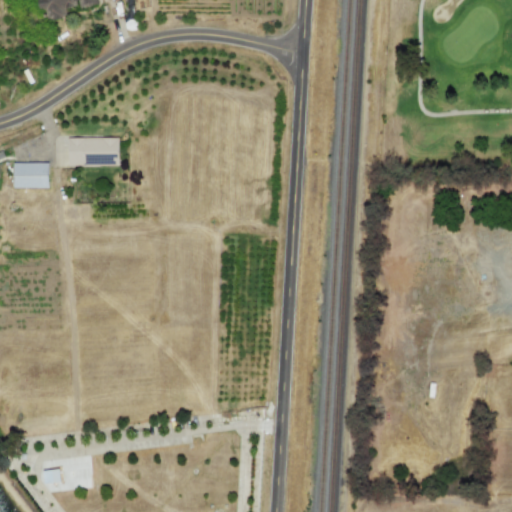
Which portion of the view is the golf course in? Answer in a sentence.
The golf course appears toward the top right of the photo.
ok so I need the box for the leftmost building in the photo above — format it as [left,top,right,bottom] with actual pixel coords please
[13,162,50,188]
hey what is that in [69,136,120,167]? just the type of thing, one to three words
barn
